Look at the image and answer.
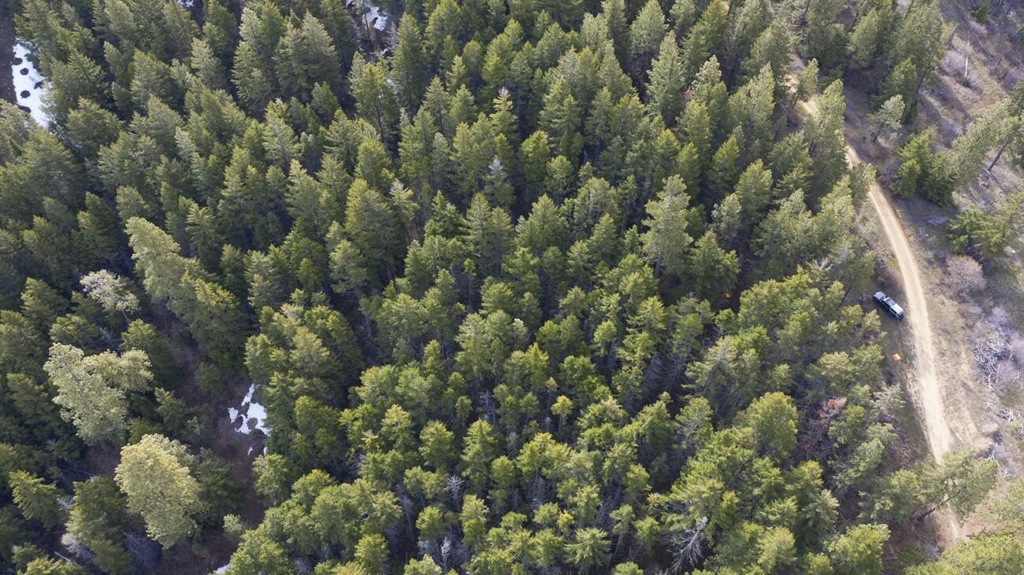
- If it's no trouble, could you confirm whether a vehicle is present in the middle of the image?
No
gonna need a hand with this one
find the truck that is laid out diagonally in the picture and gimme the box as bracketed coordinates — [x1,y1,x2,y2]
[871,292,907,322]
